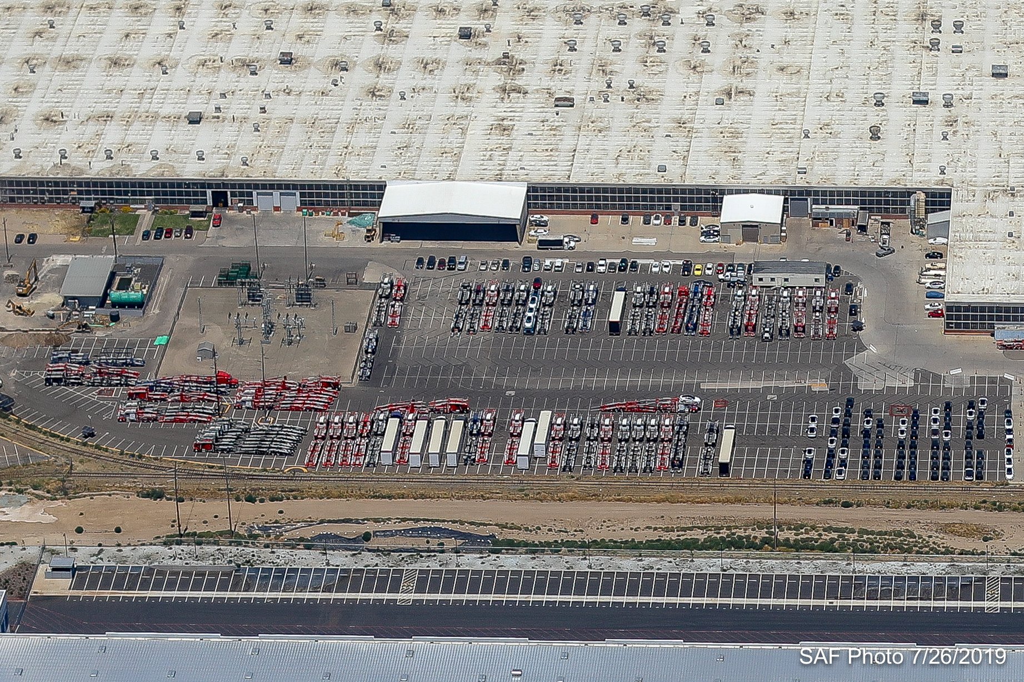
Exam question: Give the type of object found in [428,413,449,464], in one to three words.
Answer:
truck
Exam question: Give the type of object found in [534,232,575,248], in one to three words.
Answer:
vehicle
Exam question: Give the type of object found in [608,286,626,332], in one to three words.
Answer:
vehicle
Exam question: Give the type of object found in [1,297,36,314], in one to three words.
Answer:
work vehicle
